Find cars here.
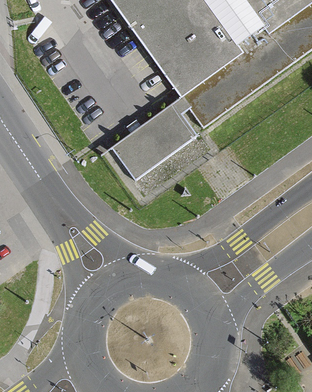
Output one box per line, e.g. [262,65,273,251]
[116,39,138,58]
[62,78,83,95]
[35,36,59,56]
[84,106,106,124]
[28,0,42,12]
[0,246,12,260]
[141,73,163,92]
[88,2,109,20]
[80,0,99,9]
[42,48,62,66]
[100,22,123,40]
[94,12,116,30]
[108,30,130,48]
[48,59,68,76]
[77,96,99,114]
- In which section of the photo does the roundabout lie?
bottom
